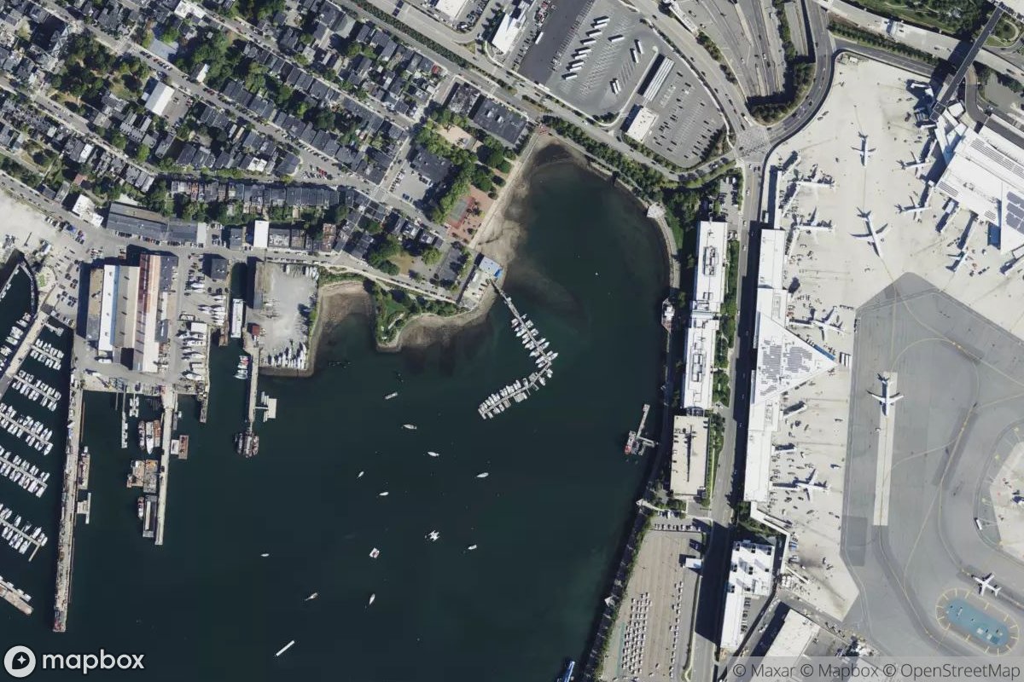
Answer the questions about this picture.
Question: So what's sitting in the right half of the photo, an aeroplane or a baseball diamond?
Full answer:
The one visible in the right half of the photo is an aeroplane.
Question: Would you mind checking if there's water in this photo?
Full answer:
Yes, the picture does contain water.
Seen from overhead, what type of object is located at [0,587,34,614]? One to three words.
pier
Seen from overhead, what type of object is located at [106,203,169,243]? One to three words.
shed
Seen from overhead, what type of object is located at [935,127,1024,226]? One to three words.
building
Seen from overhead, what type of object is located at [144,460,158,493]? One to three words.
ship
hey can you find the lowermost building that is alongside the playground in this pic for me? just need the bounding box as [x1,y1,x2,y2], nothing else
[410,145,452,186]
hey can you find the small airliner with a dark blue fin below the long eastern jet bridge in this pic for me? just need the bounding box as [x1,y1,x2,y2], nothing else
[951,249,970,275]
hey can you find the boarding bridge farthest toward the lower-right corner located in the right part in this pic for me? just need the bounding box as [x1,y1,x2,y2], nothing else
[784,564,810,585]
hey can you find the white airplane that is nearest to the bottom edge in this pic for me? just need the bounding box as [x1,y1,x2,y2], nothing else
[972,573,1004,598]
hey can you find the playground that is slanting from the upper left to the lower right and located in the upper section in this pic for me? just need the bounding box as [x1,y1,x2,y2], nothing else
[442,124,480,153]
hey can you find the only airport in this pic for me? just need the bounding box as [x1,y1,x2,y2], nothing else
[752,53,1024,682]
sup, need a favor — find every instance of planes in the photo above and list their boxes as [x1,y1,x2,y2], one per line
[871,373,904,417]
[951,249,970,275]
[851,132,879,168]
[810,311,849,345]
[851,206,894,257]
[795,209,839,246]
[795,472,833,502]
[972,573,1004,598]
[897,151,933,180]
[896,194,932,224]
[797,166,839,202]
